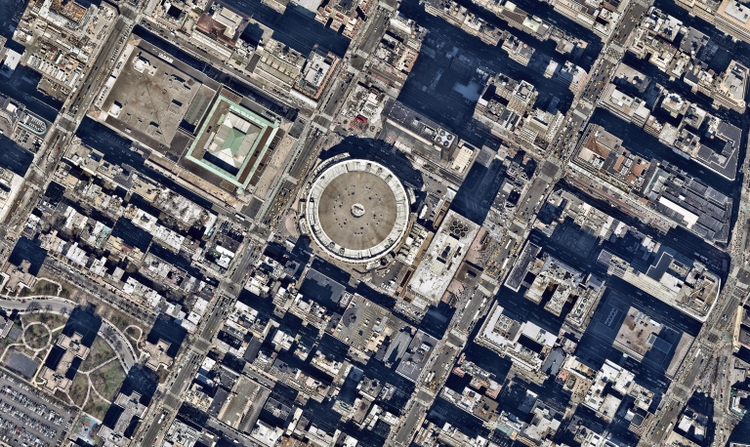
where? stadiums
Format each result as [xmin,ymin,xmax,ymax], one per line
[299,157,410,262]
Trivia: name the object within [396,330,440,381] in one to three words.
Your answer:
building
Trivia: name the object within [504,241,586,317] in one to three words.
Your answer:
building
